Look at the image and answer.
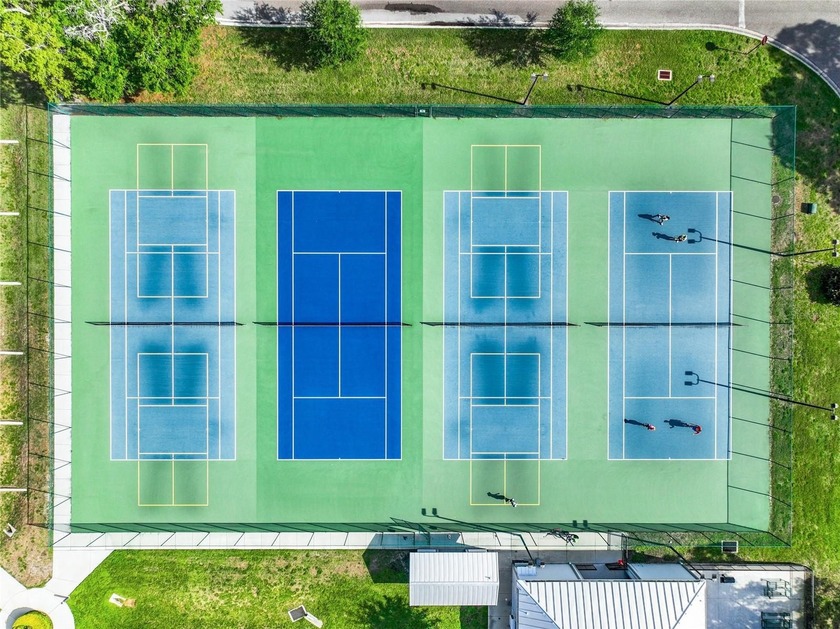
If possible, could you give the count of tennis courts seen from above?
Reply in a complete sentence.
The count of tennis courts comes to 4.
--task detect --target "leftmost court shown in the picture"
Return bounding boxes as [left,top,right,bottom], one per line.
[71,117,256,532]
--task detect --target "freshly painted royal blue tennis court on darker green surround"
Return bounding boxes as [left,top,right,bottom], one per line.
[256,117,423,532]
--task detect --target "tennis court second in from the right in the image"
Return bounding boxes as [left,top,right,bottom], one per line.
[423,117,588,532]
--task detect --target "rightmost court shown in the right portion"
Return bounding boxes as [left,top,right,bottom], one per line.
[588,117,772,532]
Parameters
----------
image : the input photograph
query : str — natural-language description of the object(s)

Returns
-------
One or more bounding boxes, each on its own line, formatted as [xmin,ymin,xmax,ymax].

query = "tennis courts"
[71,117,256,532]
[423,117,588,532]
[256,117,423,532]
[588,117,772,532]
